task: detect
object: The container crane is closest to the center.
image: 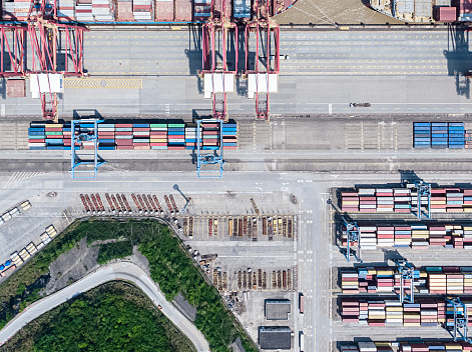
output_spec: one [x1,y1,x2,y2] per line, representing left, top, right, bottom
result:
[197,117,226,178]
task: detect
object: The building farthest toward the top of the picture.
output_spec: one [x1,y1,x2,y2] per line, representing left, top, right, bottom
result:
[266,297,290,320]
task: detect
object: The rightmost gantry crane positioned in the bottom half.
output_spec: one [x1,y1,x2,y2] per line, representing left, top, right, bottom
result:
[439,293,467,341]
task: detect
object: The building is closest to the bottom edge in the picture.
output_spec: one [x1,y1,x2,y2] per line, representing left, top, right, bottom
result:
[260,323,294,350]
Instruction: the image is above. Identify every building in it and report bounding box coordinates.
[260,323,294,350]
[266,297,290,320]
